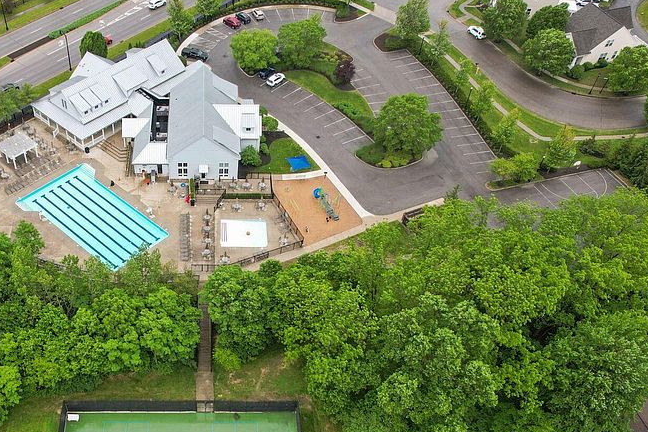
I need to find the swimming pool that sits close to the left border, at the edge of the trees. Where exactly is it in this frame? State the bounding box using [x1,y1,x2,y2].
[13,161,172,272]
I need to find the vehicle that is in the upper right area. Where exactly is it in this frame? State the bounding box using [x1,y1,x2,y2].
[468,23,488,39]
